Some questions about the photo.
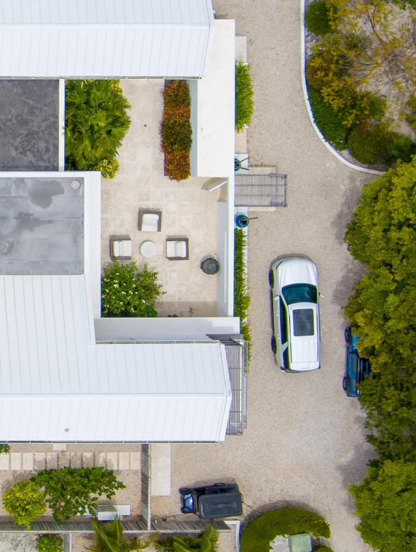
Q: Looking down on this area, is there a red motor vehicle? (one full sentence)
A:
No, there appears to be no red motor vehicle in this shot.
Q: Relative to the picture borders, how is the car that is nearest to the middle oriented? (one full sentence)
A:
In this picture, the car that is nearest to the middle lies vertically.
